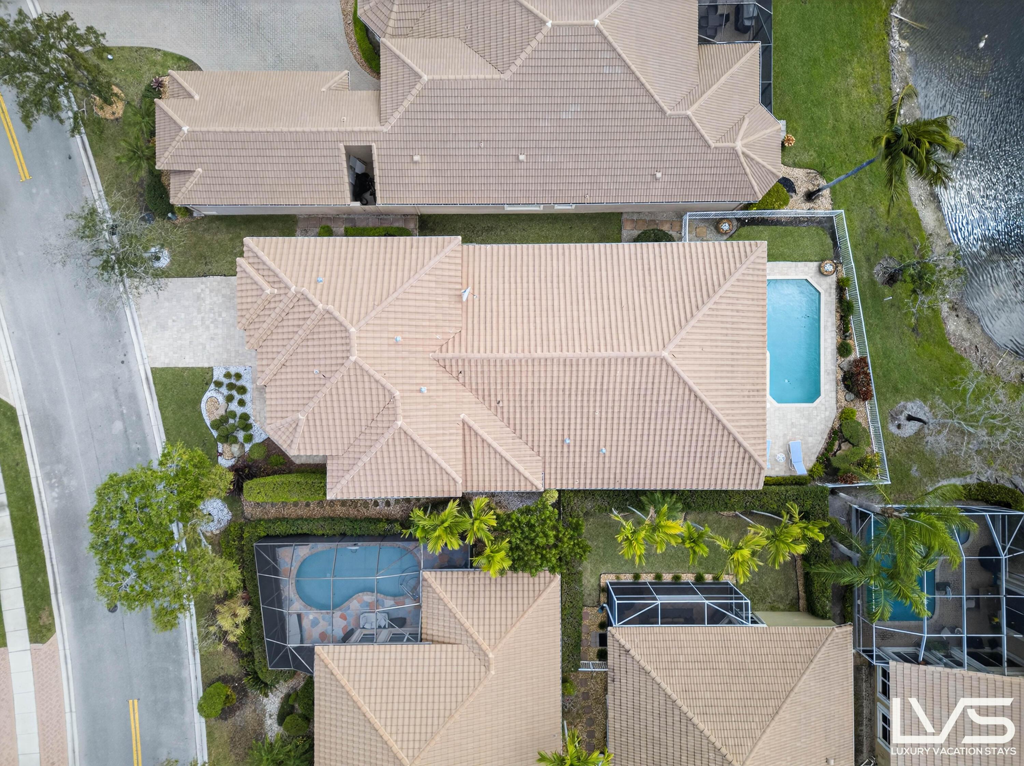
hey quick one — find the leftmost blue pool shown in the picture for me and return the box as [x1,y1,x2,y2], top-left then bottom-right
[291,543,423,616]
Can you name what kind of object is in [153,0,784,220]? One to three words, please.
house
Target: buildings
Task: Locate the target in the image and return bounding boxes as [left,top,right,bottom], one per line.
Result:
[153,0,784,220]
[311,567,564,766]
[235,234,770,502]
[870,573,1024,766]
[606,612,860,766]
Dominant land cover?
buildings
